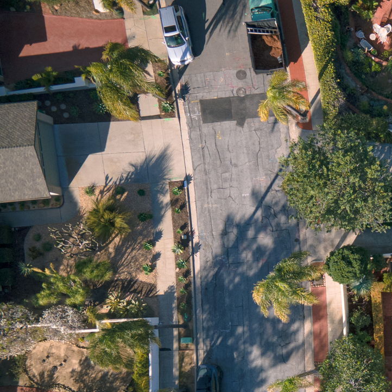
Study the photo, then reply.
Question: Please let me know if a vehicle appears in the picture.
Yes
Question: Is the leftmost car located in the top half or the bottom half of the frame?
top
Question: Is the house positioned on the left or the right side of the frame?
left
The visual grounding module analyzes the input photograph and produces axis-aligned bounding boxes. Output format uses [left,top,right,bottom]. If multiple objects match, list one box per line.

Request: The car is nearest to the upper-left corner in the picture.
[155,2,200,69]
